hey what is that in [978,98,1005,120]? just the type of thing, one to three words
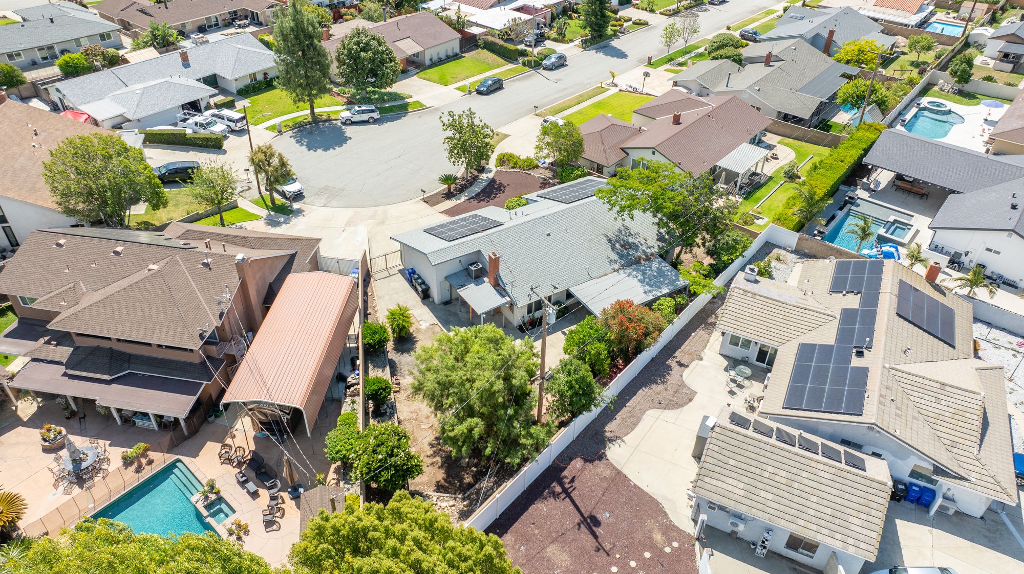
umbrella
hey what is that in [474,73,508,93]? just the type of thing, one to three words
car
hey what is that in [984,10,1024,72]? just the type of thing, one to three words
house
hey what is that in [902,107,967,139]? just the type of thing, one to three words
swimming pool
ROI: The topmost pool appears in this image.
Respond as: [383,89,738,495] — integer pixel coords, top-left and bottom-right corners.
[923,20,963,36]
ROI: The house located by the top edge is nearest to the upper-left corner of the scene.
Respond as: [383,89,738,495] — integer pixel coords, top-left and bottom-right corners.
[0,0,123,69]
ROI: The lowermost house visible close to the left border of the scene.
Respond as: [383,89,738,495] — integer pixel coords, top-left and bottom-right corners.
[0,217,335,442]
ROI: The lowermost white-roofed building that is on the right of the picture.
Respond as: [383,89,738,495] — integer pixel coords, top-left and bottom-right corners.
[693,406,891,574]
